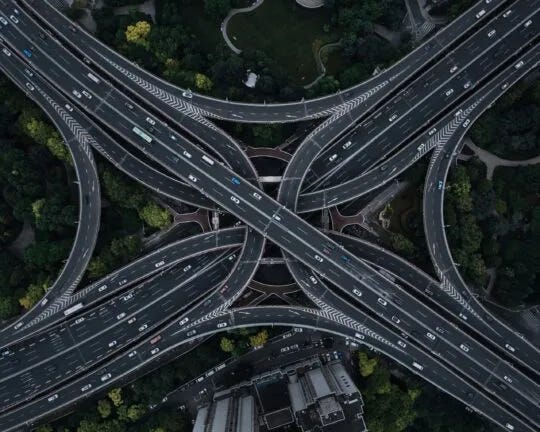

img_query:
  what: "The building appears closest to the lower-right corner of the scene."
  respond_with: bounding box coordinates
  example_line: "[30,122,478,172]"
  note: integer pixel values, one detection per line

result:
[190,352,369,432]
